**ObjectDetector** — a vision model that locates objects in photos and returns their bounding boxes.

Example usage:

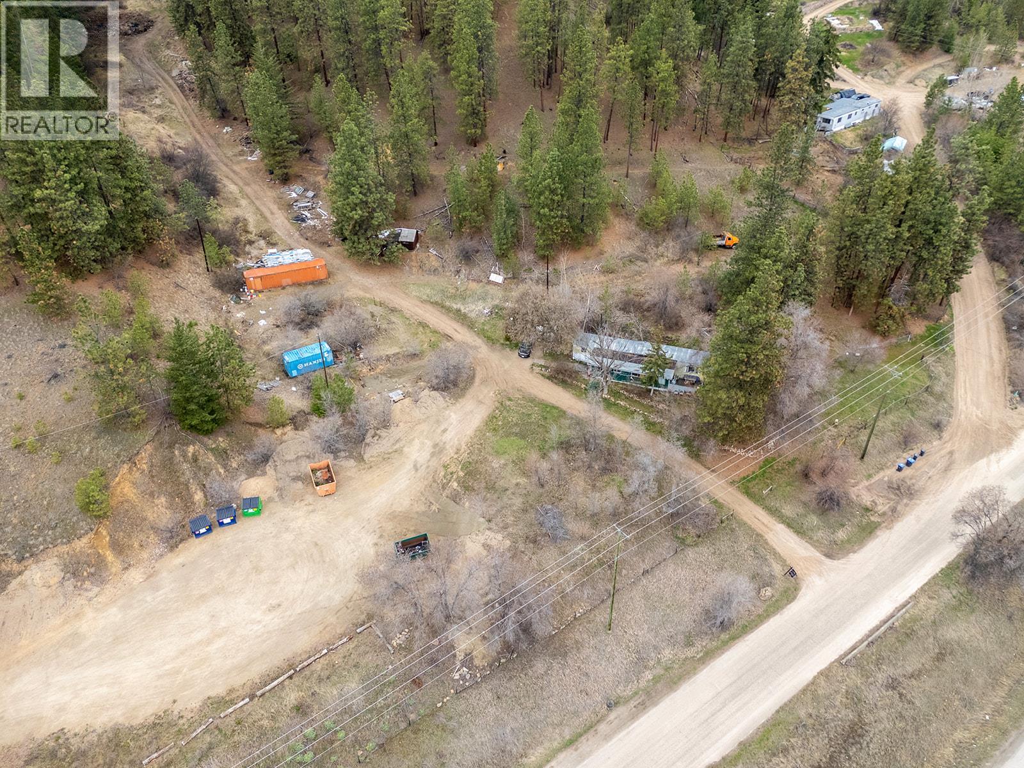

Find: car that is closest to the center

[519,333,537,354]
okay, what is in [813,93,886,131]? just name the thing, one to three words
house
